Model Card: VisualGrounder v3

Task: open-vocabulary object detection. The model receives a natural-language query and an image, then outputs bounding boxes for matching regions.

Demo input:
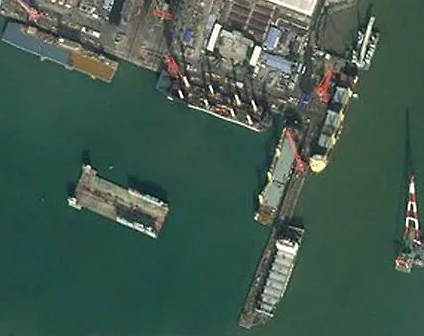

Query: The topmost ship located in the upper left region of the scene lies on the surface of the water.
[2,20,119,84]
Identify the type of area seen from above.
port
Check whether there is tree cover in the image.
No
